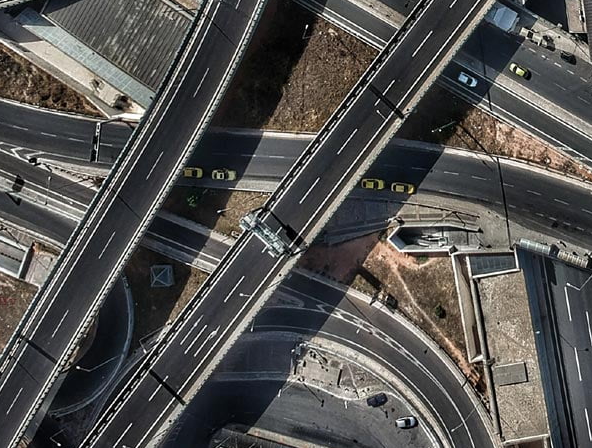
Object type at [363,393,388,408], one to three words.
car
